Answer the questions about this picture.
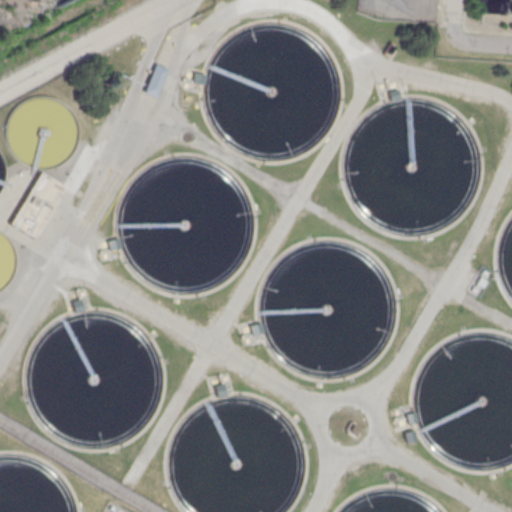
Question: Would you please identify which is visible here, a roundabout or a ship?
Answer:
roundabout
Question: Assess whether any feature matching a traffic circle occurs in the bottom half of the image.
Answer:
Yes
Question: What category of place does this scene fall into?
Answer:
industrial area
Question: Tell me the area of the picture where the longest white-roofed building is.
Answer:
left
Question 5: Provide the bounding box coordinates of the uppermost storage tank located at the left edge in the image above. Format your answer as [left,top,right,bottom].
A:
[6,96,78,172]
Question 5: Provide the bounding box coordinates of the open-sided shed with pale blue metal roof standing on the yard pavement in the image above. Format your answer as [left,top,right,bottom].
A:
[146,63,168,96]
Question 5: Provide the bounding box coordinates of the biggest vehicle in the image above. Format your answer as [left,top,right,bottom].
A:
[472,270,490,294]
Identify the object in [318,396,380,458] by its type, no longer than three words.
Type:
roundabout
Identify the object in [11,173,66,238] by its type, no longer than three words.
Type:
building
